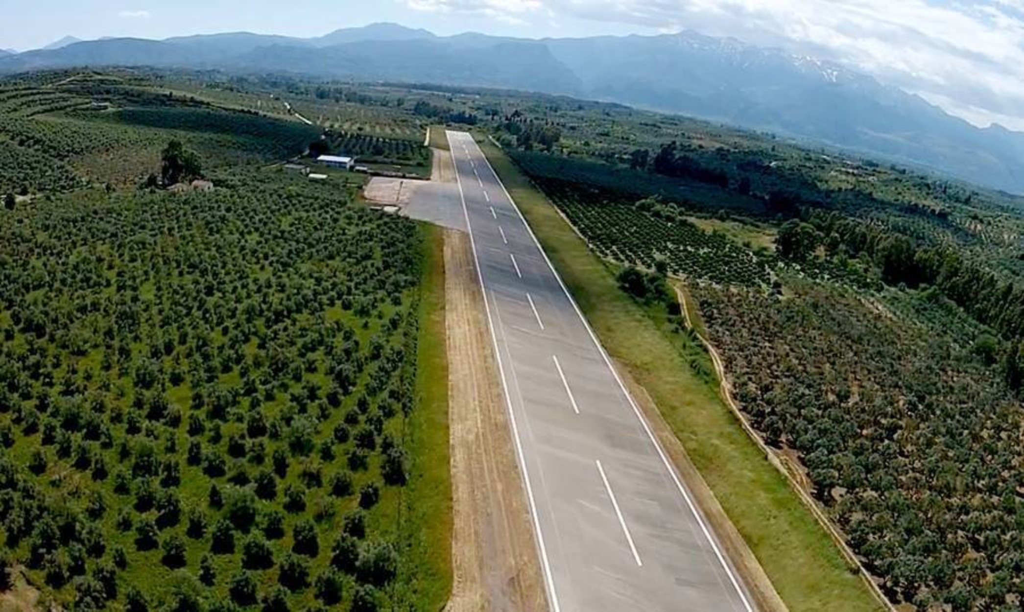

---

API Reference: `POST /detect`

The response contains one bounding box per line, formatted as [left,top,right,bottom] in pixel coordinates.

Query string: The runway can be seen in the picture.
[447,131,757,612]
